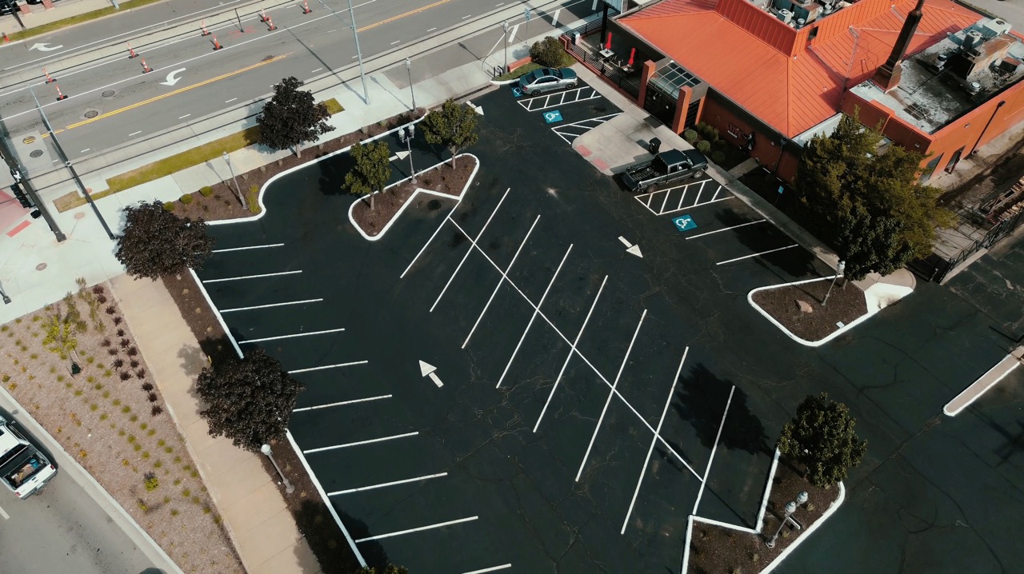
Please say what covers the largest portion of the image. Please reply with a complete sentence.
What you mostly see from above here is paved ground.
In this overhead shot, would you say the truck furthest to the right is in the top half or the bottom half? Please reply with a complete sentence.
The truck furthest to the right is in the top half of the image.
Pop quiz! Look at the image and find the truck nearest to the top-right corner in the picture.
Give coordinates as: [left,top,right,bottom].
[620,149,712,194]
